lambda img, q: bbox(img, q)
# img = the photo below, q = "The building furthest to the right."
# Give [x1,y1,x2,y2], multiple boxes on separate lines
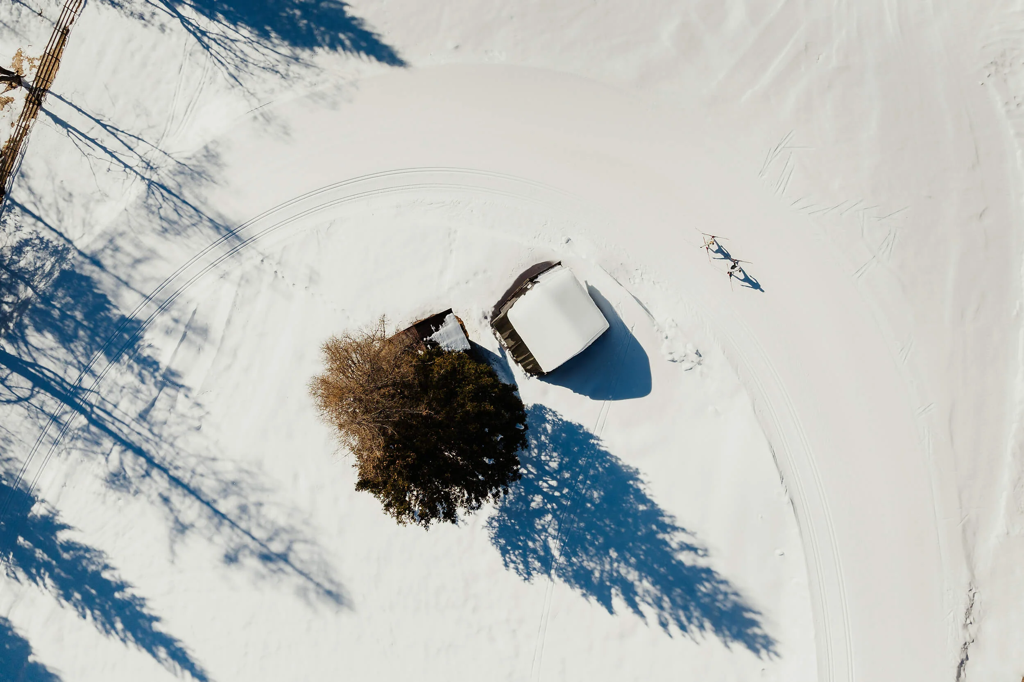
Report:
[493,261,609,373]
